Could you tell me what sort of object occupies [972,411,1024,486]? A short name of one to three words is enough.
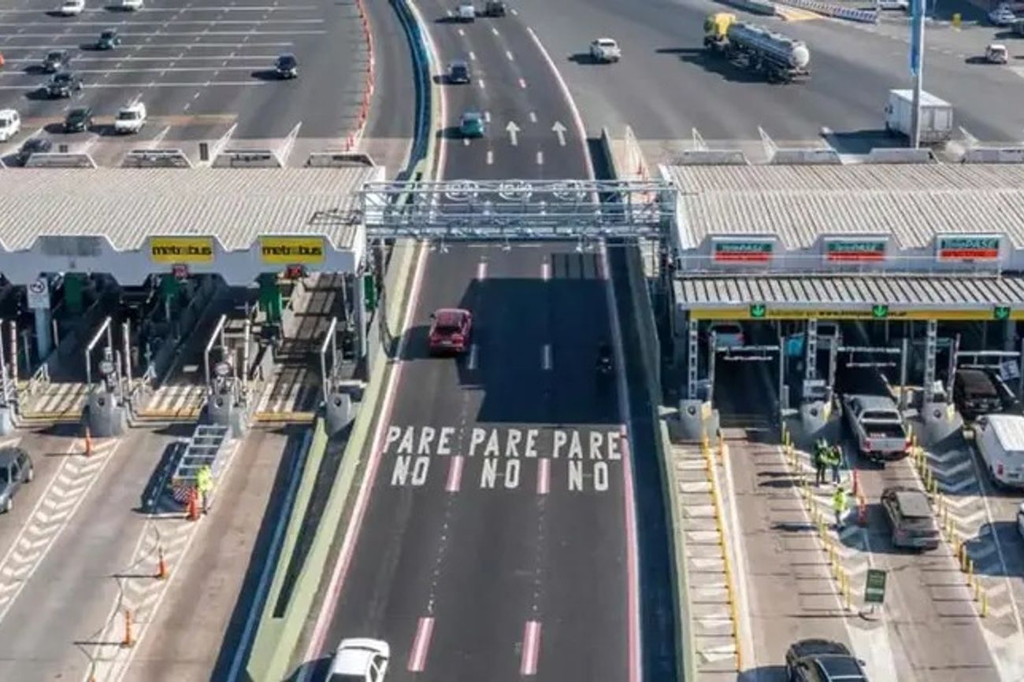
van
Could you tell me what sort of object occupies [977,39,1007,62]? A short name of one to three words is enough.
vehicle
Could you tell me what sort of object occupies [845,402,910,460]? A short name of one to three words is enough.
truck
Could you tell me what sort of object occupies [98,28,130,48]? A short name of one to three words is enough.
car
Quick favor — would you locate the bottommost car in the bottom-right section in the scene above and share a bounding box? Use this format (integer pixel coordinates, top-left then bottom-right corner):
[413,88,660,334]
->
[786,639,872,682]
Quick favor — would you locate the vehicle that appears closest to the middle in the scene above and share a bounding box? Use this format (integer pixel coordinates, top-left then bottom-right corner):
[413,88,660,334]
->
[431,311,474,350]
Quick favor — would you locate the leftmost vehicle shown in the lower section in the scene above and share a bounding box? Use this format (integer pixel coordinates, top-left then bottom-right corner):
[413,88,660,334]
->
[0,451,38,515]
